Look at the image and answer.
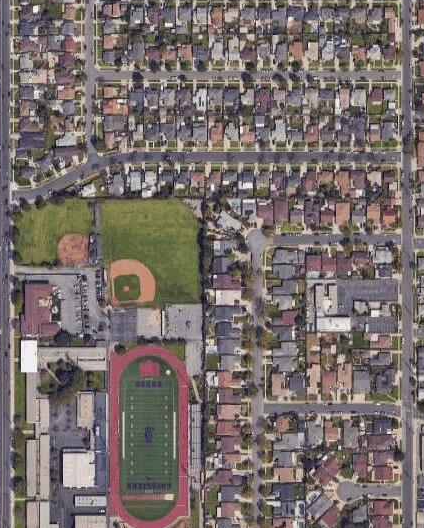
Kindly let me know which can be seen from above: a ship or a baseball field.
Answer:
baseball field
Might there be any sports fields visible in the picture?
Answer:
Yes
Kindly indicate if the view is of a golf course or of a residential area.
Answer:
residential area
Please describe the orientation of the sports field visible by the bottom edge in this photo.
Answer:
vertically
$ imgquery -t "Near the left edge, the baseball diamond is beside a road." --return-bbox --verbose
[16,199,95,265]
